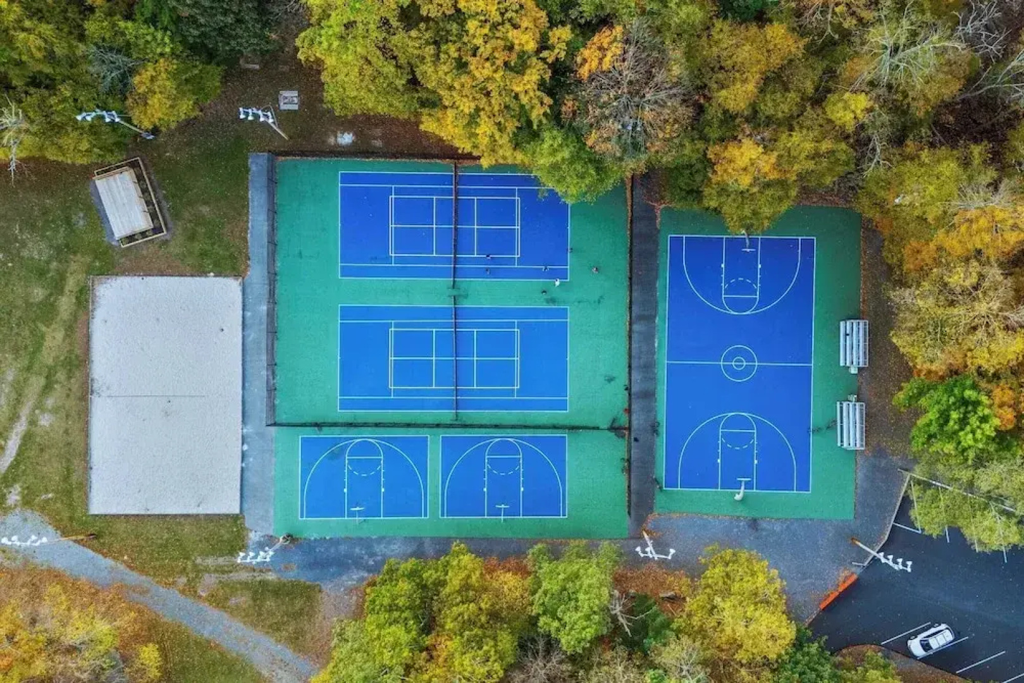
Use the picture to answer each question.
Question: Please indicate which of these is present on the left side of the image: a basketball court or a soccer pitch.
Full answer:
What appears on the left side of the image is a basketball court.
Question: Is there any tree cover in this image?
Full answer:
Yes, there's tree cover in this view.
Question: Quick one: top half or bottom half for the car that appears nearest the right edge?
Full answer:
The car that appears nearest the right edge sits in the bottom half of the picture.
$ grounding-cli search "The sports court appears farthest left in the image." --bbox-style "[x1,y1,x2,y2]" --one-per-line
[88,276,243,515]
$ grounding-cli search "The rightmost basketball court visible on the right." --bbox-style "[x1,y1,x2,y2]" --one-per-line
[655,207,860,520]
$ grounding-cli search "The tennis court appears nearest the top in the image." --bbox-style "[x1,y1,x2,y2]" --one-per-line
[276,159,628,292]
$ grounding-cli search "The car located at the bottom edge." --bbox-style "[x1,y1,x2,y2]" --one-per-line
[905,622,955,658]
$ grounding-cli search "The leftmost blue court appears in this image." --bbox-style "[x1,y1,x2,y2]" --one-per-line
[274,423,434,538]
